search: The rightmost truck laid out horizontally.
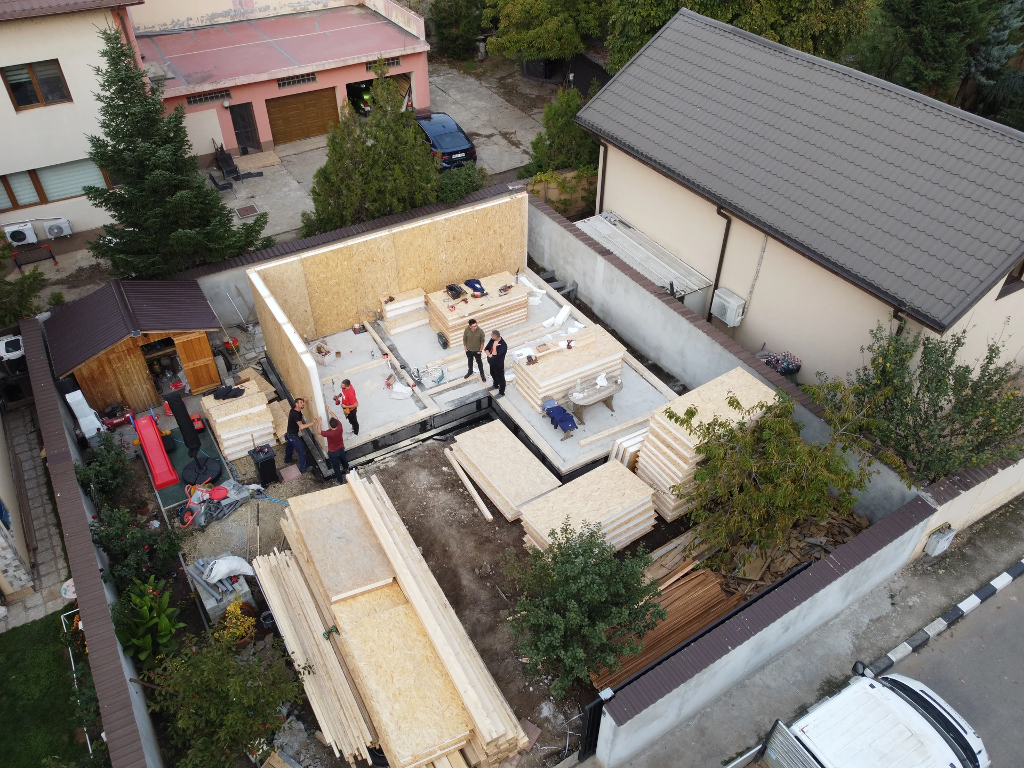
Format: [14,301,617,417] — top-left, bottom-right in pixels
[741,660,981,768]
